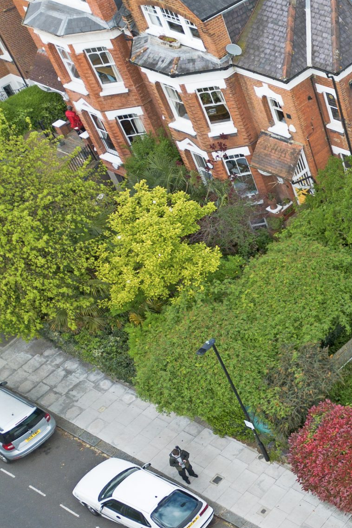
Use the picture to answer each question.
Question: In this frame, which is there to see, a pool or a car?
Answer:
car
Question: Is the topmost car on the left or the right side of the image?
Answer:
left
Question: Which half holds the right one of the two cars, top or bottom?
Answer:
bottom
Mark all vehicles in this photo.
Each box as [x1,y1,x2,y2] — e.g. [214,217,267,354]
[76,458,221,528]
[0,386,60,463]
